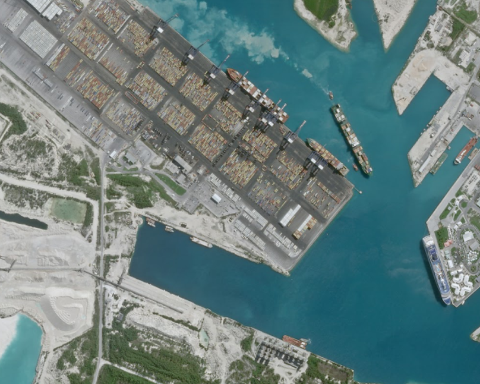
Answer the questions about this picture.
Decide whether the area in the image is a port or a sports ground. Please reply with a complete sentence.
This image shows a port.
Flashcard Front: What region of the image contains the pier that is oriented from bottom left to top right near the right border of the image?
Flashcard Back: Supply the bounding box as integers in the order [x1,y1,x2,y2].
[410,121,463,188]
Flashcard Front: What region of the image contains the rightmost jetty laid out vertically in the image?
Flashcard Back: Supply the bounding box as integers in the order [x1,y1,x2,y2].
[427,102,480,307]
